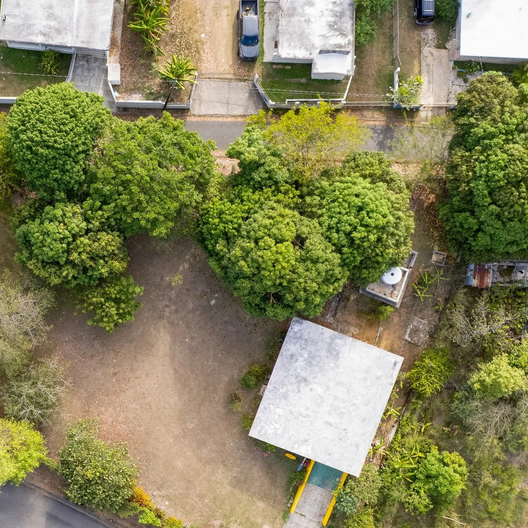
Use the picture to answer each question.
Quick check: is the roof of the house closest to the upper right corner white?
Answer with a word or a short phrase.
Yes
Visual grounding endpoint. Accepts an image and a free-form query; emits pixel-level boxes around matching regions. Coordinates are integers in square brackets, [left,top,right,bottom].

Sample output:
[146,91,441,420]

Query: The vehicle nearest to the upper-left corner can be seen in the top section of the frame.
[236,0,262,58]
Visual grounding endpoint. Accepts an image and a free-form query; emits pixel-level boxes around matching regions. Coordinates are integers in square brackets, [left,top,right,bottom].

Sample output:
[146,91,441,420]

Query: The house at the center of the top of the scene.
[270,0,357,85]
